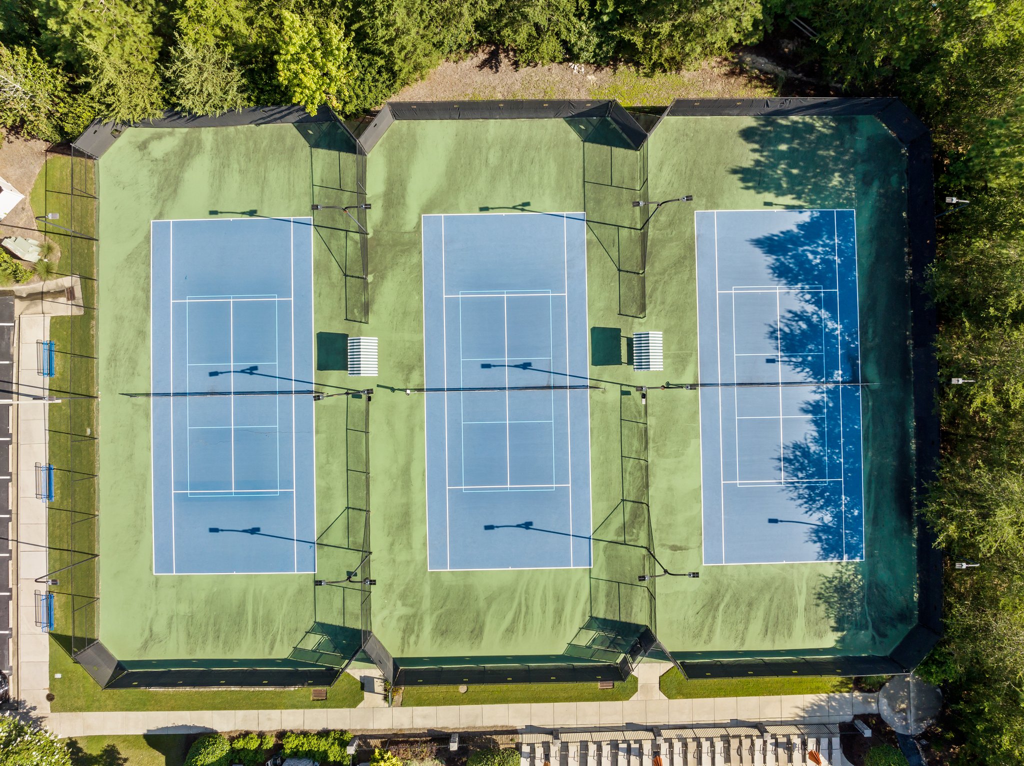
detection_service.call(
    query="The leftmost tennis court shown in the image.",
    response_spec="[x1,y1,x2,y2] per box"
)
[94,120,370,673]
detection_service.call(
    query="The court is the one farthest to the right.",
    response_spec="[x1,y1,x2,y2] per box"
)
[626,111,918,665]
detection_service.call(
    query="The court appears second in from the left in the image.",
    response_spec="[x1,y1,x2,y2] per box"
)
[344,116,647,670]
